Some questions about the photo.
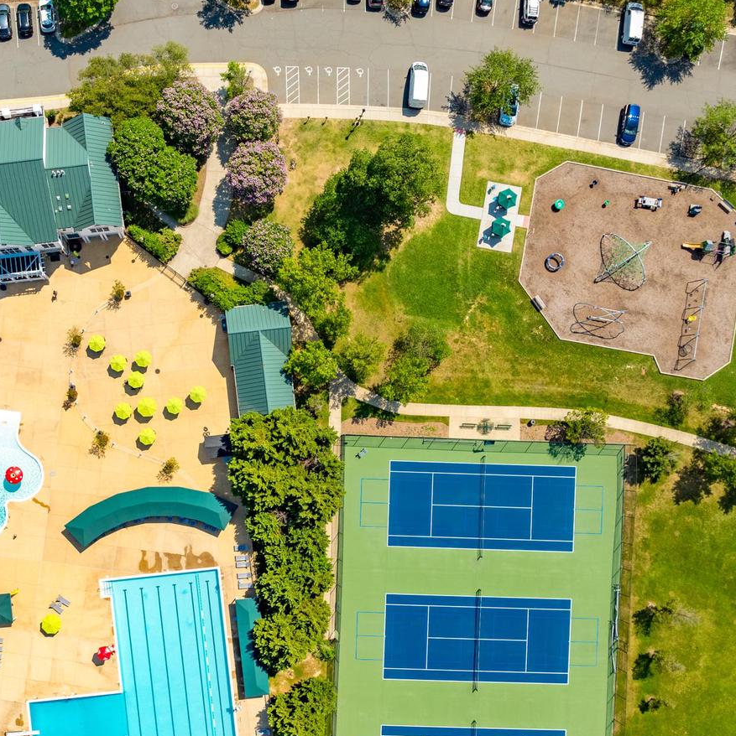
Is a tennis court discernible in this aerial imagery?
Yes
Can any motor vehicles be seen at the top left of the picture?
Yes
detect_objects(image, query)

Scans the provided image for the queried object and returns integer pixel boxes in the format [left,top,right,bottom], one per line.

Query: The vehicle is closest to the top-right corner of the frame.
[619,2,645,51]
